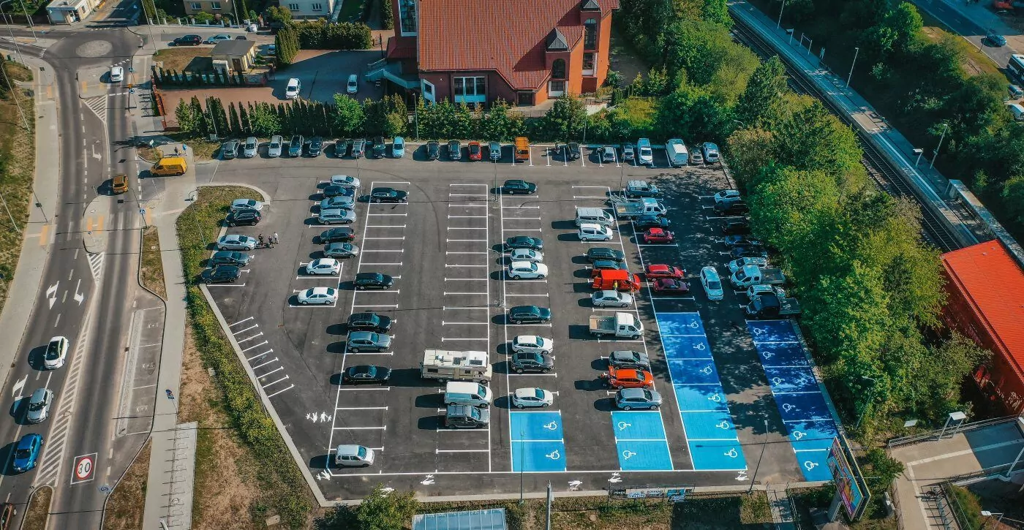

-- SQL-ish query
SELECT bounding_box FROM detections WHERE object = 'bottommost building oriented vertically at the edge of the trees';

[942,234,1024,434]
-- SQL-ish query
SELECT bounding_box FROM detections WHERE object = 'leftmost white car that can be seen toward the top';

[108,67,125,81]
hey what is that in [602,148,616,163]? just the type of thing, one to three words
car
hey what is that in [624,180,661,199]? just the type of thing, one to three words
vehicle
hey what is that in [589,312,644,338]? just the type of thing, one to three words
truck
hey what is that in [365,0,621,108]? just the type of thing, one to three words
building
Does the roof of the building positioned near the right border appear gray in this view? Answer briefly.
No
